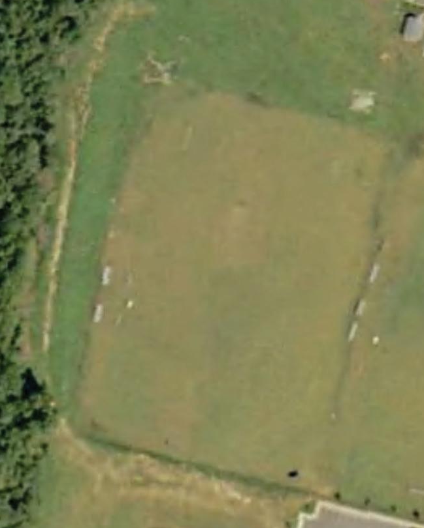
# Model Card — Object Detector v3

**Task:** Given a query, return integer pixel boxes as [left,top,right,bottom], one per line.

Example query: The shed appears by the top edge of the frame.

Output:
[403,16,424,41]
